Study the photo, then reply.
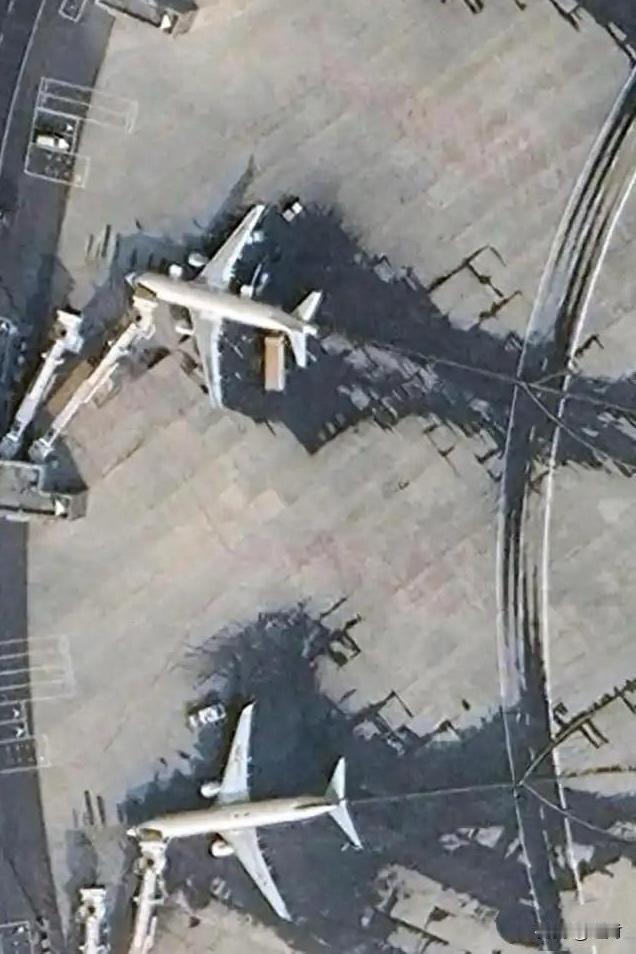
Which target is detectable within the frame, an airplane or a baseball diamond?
airplane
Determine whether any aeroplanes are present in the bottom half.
Yes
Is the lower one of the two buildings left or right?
left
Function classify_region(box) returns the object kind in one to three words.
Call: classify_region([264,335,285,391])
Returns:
vehicle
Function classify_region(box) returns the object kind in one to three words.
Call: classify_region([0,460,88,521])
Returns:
building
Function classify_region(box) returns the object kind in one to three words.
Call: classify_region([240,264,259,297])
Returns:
work vehicle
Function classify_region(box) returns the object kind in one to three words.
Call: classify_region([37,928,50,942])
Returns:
vehicle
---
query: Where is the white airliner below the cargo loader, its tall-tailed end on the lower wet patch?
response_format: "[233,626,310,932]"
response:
[129,705,359,919]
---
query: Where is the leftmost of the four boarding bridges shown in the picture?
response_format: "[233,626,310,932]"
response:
[0,307,82,457]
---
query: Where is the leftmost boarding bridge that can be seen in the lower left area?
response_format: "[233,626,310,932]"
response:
[75,888,109,954]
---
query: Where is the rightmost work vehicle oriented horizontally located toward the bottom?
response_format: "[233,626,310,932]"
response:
[188,706,225,726]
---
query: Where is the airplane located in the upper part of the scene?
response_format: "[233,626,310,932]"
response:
[128,205,325,406]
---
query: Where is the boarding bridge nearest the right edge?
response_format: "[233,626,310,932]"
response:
[131,830,169,954]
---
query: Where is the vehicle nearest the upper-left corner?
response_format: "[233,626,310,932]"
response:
[36,133,69,147]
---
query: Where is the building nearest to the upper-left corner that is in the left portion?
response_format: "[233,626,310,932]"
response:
[95,0,193,39]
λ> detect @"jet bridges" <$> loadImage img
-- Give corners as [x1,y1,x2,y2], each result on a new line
[131,830,169,954]
[29,283,158,461]
[75,888,109,954]
[0,307,82,457]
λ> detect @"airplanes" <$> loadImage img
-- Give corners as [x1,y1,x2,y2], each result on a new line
[128,205,325,406]
[129,705,359,919]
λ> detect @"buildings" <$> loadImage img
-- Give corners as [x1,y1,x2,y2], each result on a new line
[0,460,88,521]
[95,0,193,39]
